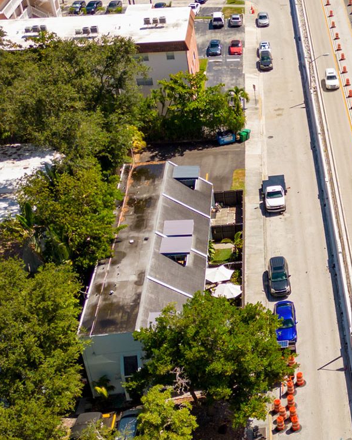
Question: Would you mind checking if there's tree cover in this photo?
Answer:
Yes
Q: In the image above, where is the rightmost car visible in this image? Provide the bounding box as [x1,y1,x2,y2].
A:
[324,67,340,89]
